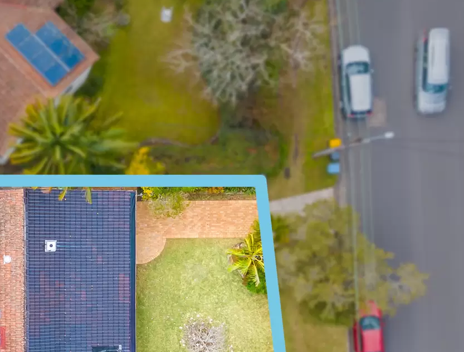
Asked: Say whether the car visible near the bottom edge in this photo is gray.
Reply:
No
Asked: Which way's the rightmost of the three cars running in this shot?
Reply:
vertically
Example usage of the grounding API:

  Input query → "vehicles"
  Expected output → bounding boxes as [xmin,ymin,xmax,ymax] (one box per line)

[413,30,453,113]
[352,305,387,352]
[339,46,376,117]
